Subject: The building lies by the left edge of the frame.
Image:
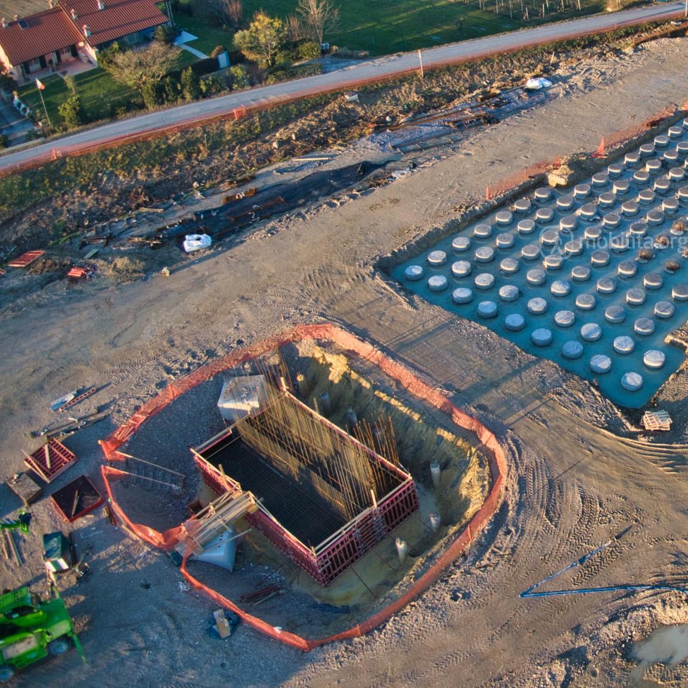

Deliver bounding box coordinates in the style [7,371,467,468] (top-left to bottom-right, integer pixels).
[0,0,178,99]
